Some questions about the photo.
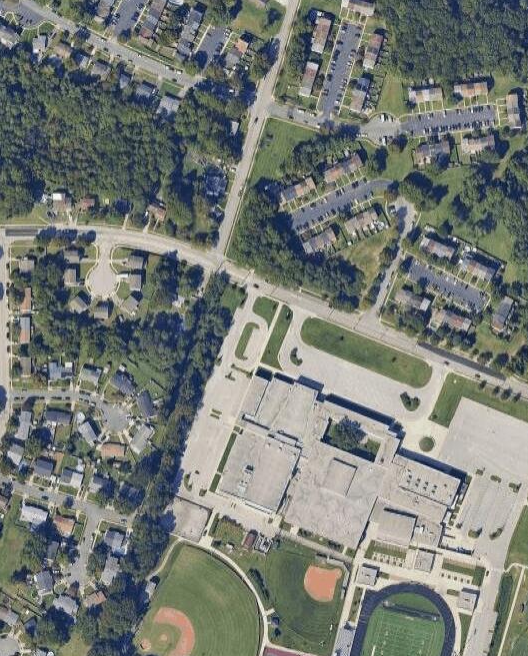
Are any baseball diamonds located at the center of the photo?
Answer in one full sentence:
No, no baseball diamond can be made out at the center of the photo.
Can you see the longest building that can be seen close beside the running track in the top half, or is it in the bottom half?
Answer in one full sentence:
You can find the longest building that can be seen close beside the running track in the bottom half.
